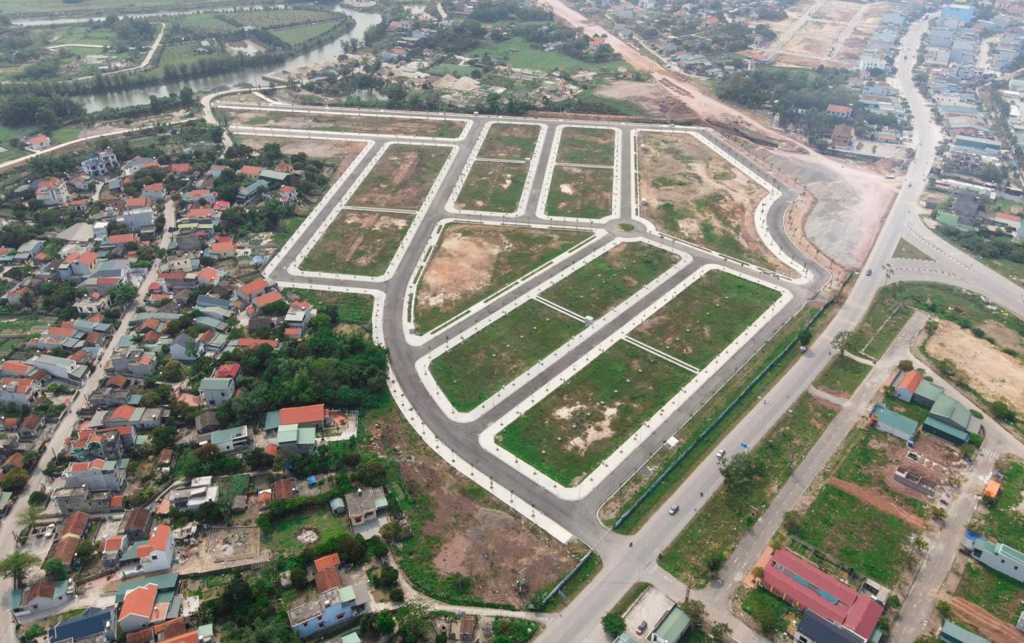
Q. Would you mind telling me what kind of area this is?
residential area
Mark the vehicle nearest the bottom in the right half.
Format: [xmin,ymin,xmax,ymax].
[632,617,650,636]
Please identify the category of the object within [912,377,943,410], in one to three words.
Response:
shed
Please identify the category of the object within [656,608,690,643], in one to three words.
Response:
house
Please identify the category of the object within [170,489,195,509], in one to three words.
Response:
shed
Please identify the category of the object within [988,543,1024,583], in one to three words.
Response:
house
